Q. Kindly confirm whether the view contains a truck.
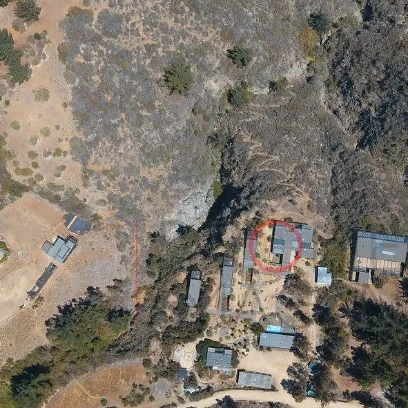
No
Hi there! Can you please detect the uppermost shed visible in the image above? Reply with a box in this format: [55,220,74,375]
[65,213,94,234]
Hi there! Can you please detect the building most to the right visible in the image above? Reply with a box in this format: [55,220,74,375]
[352,231,408,284]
